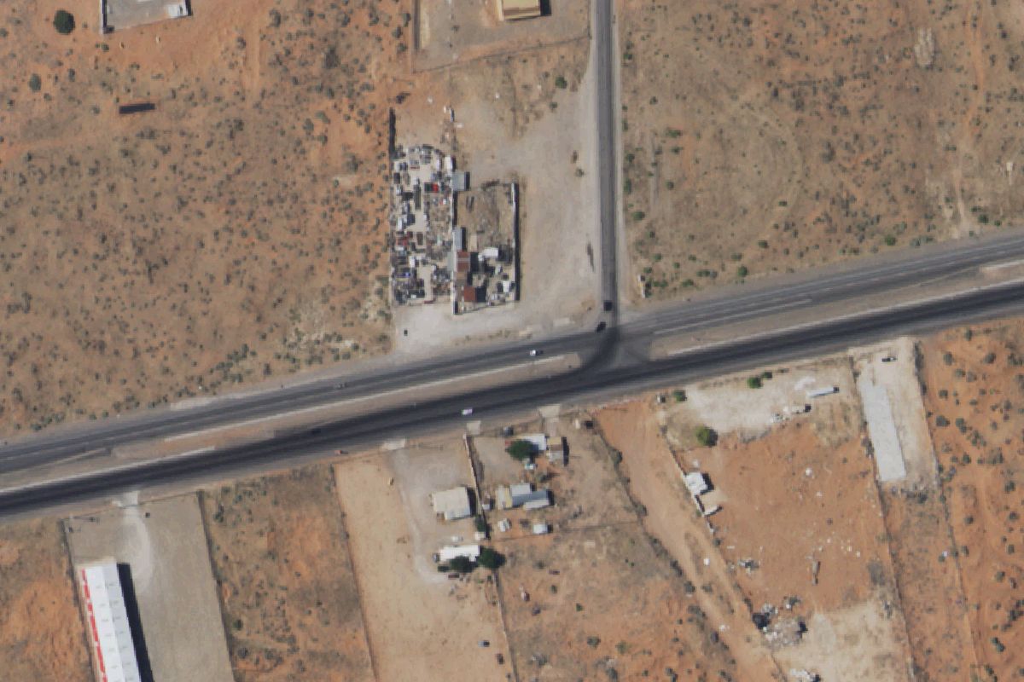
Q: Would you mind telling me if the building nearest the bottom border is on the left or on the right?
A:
left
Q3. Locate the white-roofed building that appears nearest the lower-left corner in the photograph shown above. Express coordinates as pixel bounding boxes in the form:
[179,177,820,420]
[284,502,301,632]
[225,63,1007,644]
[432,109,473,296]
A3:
[82,560,142,682]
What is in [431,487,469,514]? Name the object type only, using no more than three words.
building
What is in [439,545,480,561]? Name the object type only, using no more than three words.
house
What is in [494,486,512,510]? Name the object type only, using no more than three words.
shed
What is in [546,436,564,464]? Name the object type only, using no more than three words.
shed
